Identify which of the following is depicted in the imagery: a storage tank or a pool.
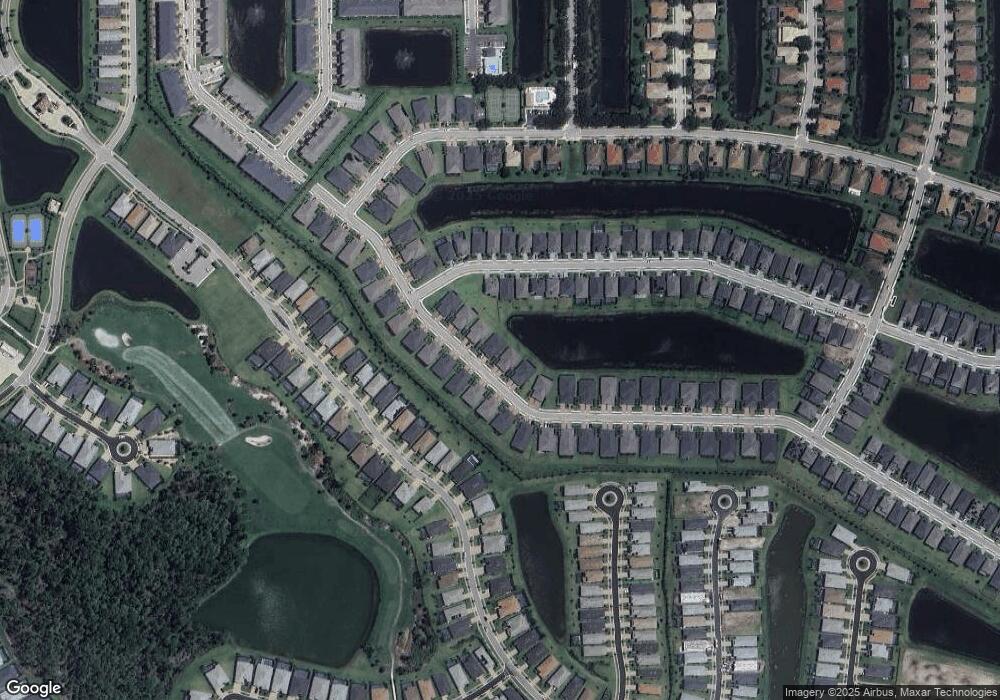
pool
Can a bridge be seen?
No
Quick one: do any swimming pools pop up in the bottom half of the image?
No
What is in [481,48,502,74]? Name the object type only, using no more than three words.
swimming pool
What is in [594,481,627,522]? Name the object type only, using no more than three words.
roundabout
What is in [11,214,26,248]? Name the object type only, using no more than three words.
tennis court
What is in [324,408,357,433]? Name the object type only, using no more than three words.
house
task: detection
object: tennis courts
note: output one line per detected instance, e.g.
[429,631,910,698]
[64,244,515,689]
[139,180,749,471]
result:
[504,87,520,122]
[11,214,26,248]
[486,87,503,122]
[27,214,44,248]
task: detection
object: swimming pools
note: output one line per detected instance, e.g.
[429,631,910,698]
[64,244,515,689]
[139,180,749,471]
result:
[481,48,502,74]
[527,87,555,108]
